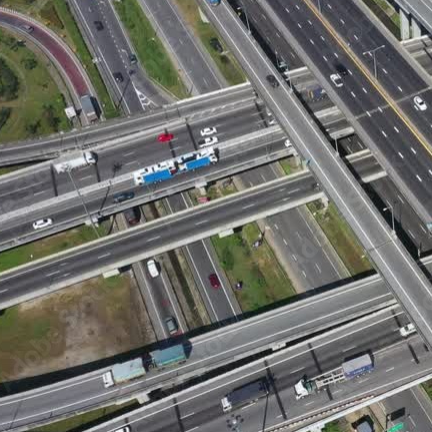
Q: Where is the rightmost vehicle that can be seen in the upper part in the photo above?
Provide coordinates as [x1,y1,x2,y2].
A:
[412,97,426,110]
